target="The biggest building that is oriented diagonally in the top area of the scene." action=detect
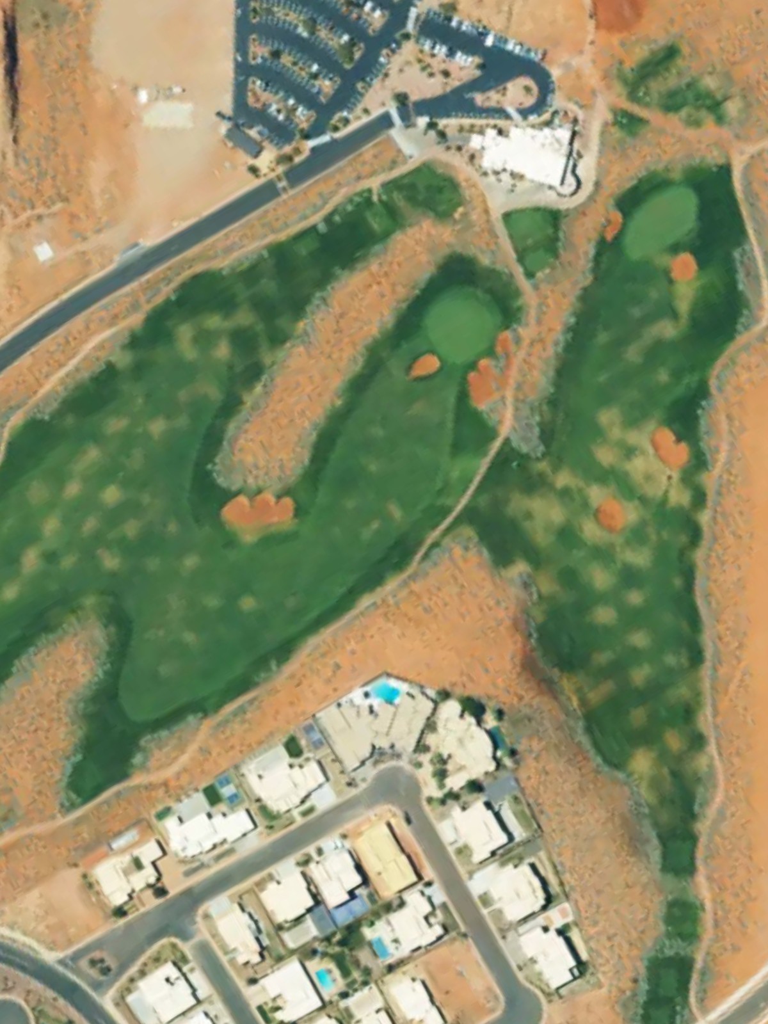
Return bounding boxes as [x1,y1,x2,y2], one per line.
[226,124,261,157]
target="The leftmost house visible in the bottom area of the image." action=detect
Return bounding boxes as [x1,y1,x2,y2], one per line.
[95,840,165,902]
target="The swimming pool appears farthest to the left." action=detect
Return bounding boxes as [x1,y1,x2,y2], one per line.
[314,967,336,992]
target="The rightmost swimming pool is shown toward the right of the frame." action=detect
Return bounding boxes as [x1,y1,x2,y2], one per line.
[489,725,506,750]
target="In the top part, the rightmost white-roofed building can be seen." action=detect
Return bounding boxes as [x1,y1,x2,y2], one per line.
[470,126,571,185]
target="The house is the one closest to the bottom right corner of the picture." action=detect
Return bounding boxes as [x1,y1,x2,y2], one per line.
[518,927,576,988]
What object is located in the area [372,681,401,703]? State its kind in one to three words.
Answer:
swimming pool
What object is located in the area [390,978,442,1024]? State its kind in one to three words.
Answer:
house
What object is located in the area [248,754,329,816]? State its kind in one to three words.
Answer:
house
